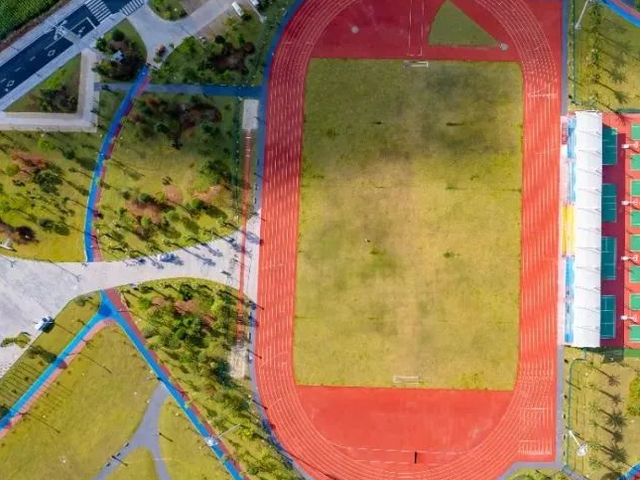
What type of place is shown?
sports ground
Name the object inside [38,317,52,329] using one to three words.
vehicle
